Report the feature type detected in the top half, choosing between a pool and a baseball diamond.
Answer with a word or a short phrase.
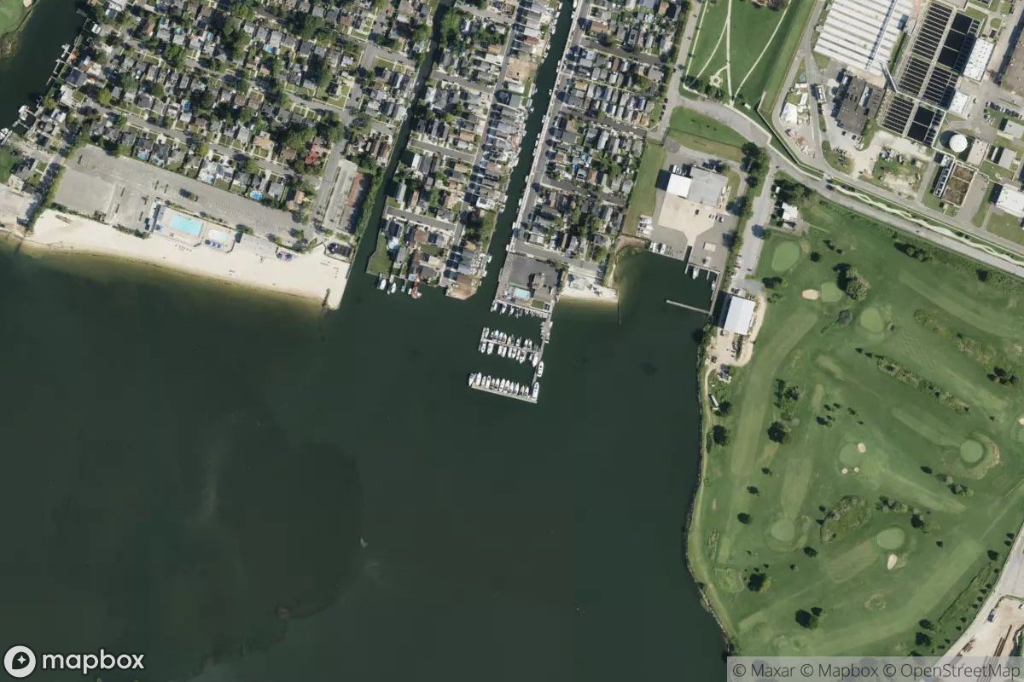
pool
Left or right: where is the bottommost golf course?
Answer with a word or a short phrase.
right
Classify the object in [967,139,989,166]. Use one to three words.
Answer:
building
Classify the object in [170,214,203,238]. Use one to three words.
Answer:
swimming pool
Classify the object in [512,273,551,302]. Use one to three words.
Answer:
building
